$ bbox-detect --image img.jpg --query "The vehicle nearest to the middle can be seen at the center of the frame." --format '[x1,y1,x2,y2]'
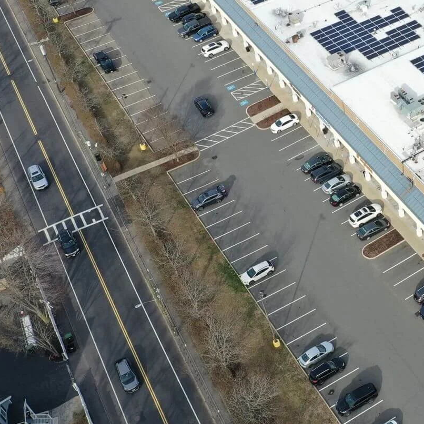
[191,179,229,210]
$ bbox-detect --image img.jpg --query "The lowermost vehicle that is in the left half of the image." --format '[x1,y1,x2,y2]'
[114,357,142,393]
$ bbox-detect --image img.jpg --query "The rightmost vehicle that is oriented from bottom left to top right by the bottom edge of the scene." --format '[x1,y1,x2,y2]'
[335,380,380,417]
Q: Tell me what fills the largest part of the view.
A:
paved ground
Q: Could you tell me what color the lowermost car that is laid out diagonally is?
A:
black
